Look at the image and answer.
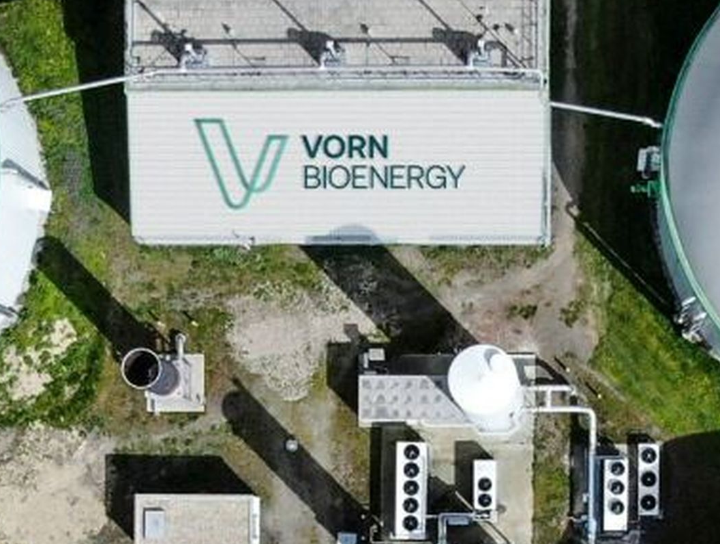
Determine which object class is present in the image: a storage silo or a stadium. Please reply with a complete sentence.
It is a storage silo that can be seen here.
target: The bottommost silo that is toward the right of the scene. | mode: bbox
[446,343,531,443]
